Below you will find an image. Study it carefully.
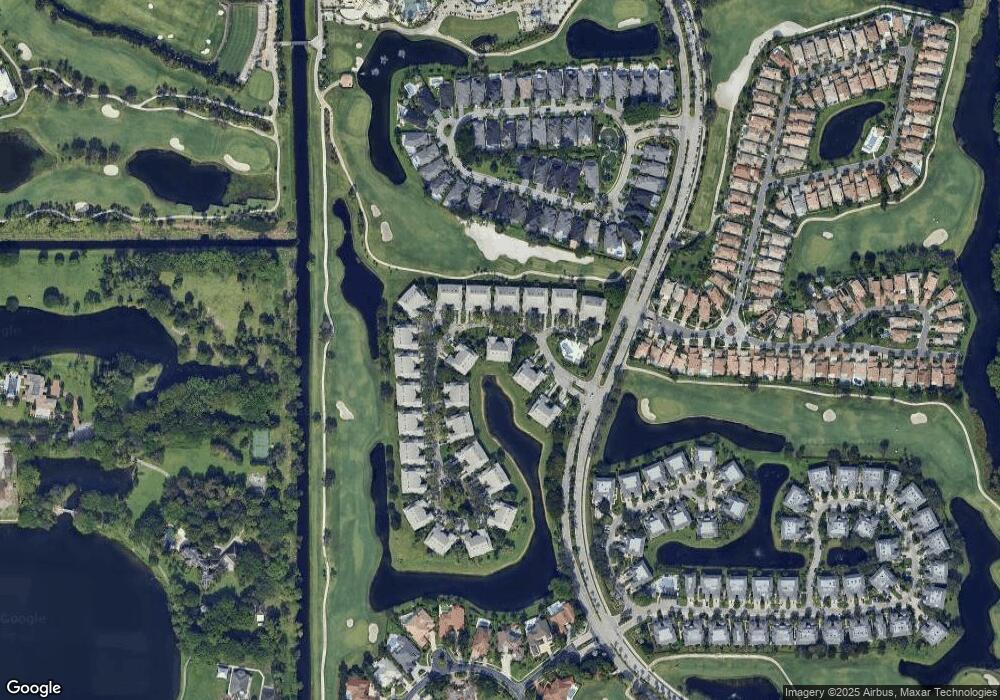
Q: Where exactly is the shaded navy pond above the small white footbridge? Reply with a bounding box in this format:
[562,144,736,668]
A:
[29,457,137,509]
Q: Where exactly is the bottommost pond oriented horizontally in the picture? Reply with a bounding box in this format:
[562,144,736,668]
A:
[685,677,784,700]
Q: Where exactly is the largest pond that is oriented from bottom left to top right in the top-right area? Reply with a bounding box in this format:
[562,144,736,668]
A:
[819,102,886,160]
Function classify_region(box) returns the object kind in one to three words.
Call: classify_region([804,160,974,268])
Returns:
golf course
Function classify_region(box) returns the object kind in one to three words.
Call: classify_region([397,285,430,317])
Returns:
building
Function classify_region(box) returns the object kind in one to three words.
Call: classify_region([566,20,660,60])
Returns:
pond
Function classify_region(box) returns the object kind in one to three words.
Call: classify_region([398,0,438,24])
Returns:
swimming pool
